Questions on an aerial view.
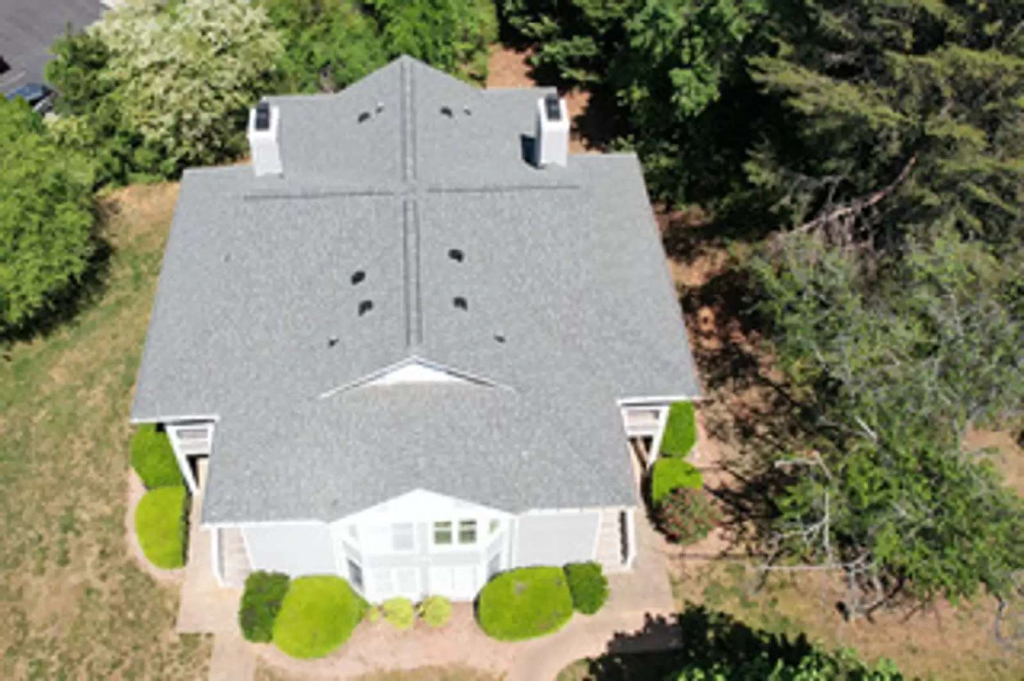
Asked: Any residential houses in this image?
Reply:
Yes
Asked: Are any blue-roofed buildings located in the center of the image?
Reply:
No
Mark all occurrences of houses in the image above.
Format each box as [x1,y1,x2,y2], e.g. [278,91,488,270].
[131,56,701,603]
